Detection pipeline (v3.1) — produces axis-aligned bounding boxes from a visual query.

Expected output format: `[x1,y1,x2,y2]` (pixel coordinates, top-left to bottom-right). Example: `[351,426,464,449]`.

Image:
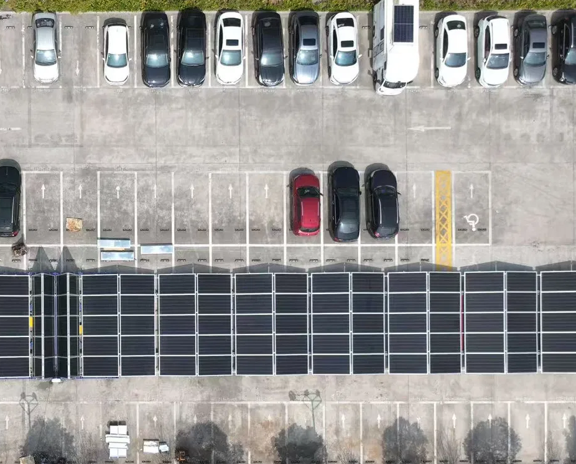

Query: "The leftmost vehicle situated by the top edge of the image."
[28,13,63,84]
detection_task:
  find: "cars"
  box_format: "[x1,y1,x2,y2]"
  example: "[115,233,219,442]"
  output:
[99,17,133,86]
[175,9,210,87]
[511,14,549,85]
[325,13,361,85]
[212,13,247,86]
[139,10,174,87]
[288,12,323,85]
[252,13,287,86]
[289,174,324,238]
[0,166,23,238]
[433,15,470,86]
[549,10,576,85]
[364,168,402,241]
[326,166,364,241]
[28,13,63,84]
[472,14,512,89]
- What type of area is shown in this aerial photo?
parking lot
